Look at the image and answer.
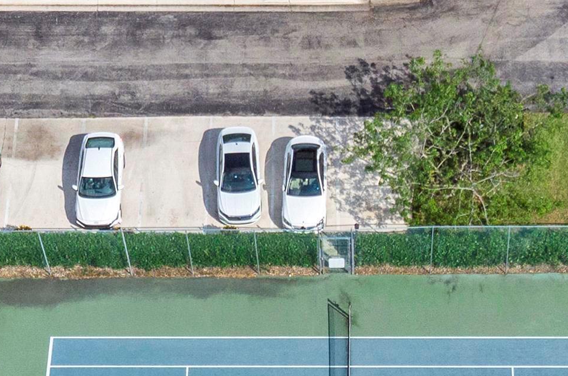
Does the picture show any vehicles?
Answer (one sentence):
Yes, you can see a vehicle in this photo.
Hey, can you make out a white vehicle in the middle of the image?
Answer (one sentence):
Yes, the scene does show a white vehicle in the middle of the image.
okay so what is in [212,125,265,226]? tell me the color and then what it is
white car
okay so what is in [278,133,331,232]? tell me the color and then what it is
white car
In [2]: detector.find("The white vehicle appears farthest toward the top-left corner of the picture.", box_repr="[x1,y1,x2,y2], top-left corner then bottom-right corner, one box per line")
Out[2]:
[71,131,127,229]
